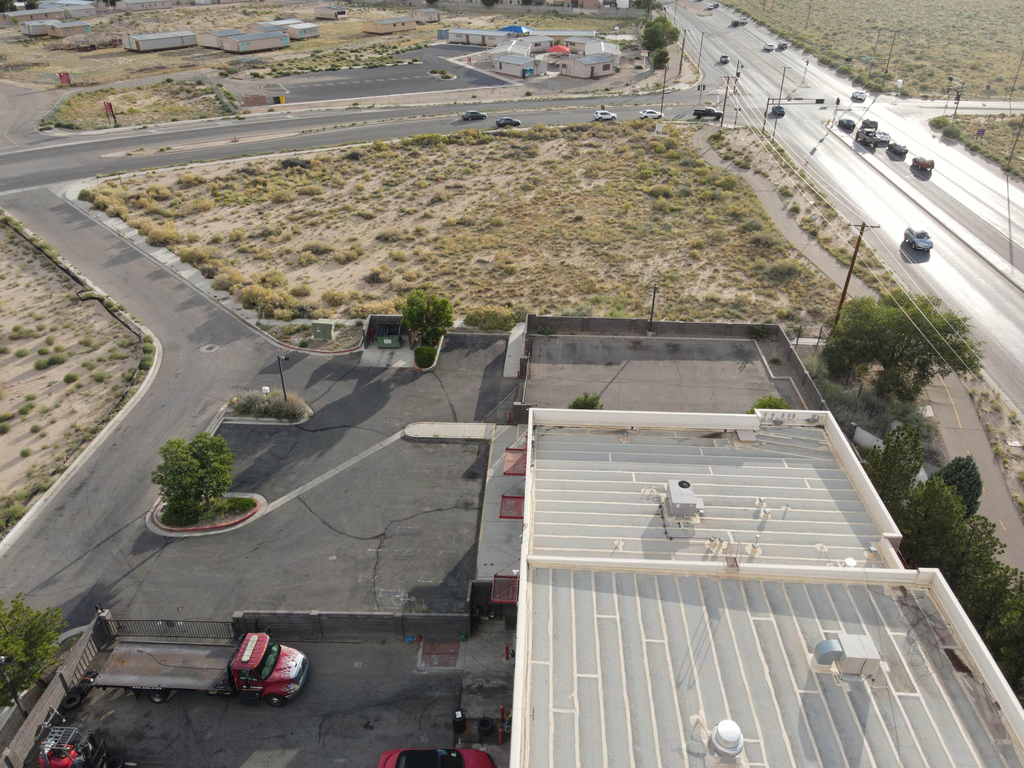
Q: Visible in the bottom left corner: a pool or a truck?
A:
truck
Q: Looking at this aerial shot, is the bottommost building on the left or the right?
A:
right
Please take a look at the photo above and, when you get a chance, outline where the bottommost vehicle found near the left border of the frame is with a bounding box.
[34,726,125,768]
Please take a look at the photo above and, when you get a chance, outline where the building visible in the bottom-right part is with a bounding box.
[492,409,1024,768]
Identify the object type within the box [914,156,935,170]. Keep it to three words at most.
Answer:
car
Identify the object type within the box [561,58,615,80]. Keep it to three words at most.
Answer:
building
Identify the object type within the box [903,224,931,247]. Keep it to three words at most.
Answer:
car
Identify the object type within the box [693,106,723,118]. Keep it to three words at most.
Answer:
vehicle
